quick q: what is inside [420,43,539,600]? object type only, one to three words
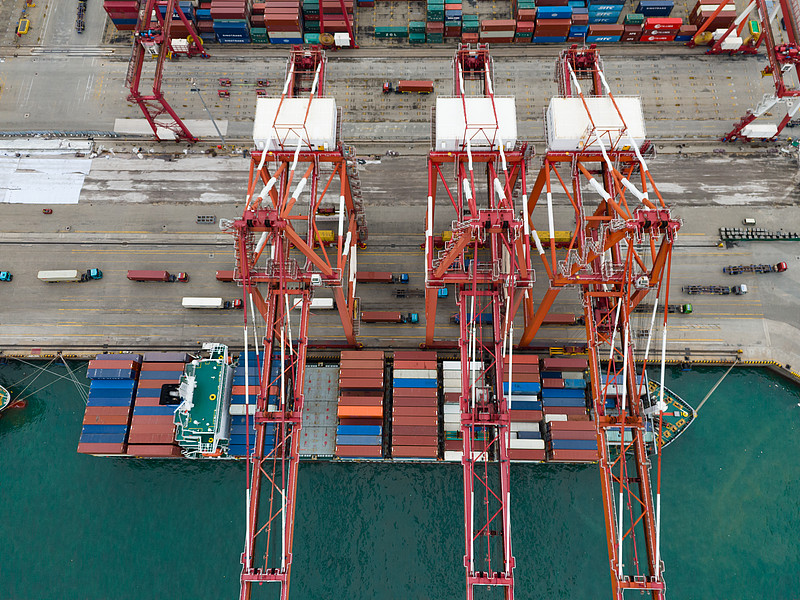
container crane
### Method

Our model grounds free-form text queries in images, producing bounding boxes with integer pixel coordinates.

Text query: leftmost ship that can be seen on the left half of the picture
[0,380,31,415]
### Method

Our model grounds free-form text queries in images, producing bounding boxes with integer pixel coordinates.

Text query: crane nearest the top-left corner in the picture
[132,0,209,141]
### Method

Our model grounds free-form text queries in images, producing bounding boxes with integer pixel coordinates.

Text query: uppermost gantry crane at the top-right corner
[686,0,761,48]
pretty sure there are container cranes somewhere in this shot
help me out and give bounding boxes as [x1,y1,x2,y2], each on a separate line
[212,43,370,600]
[132,0,209,141]
[704,0,800,141]
[512,43,684,600]
[686,0,761,48]
[420,43,539,600]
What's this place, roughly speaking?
port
